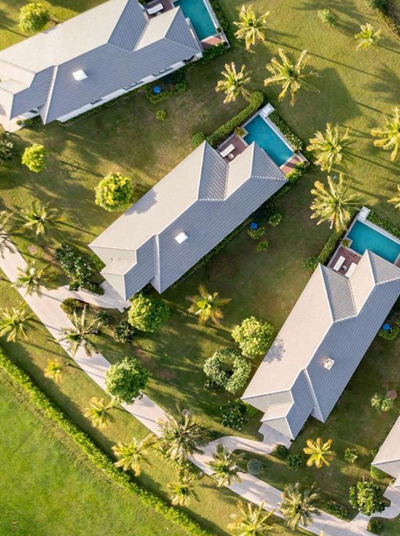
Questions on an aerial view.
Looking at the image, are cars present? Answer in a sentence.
No, no car is visible in the scene.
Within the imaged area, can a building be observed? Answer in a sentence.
Yes, there's a building here.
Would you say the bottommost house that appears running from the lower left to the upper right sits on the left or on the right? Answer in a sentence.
The bottommost house that appears running from the lower left to the upper right sits on the right side.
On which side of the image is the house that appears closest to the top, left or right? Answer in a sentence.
You can find the house that appears closest to the top on the left side of the picture.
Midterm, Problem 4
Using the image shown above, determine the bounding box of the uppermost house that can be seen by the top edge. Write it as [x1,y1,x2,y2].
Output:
[0,0,202,125]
